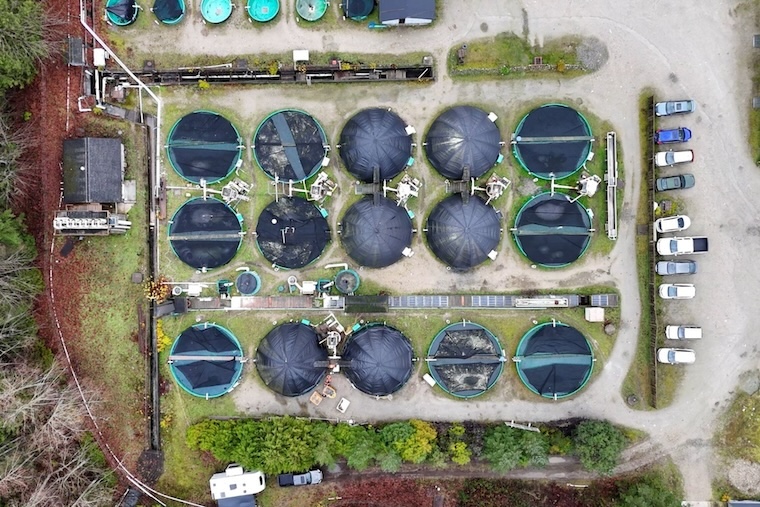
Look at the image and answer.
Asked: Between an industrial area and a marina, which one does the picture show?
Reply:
industrial area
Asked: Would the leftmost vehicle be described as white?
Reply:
Yes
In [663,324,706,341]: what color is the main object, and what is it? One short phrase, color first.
white car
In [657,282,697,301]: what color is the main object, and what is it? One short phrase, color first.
white car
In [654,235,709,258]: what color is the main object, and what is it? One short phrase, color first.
white truck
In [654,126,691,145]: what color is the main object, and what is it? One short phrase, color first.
blue car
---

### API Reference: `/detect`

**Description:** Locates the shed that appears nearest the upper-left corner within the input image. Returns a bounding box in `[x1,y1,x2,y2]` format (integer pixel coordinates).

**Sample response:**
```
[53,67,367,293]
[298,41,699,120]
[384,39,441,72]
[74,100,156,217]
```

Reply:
[65,34,85,66]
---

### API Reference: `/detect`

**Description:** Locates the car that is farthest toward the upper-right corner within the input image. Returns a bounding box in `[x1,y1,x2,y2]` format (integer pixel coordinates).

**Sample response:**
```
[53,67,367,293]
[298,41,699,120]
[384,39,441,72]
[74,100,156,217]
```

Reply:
[653,98,695,117]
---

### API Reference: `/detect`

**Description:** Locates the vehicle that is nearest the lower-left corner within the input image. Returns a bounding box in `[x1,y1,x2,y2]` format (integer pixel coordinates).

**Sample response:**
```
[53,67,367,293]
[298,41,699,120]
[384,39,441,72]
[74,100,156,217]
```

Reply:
[211,462,275,507]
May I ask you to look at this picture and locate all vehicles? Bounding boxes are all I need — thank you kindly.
[663,324,706,341]
[654,259,698,277]
[655,172,695,192]
[657,282,697,301]
[654,126,691,145]
[653,214,690,233]
[656,347,697,366]
[653,98,695,117]
[654,235,709,258]
[654,148,695,168]
[278,467,324,489]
